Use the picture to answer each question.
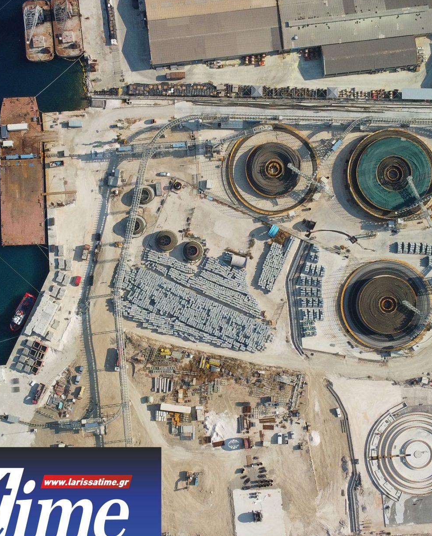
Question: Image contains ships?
Yes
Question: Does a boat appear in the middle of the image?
No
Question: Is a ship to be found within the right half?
No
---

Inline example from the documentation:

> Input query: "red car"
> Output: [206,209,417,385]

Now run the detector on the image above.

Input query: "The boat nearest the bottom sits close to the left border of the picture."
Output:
[11,293,37,329]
